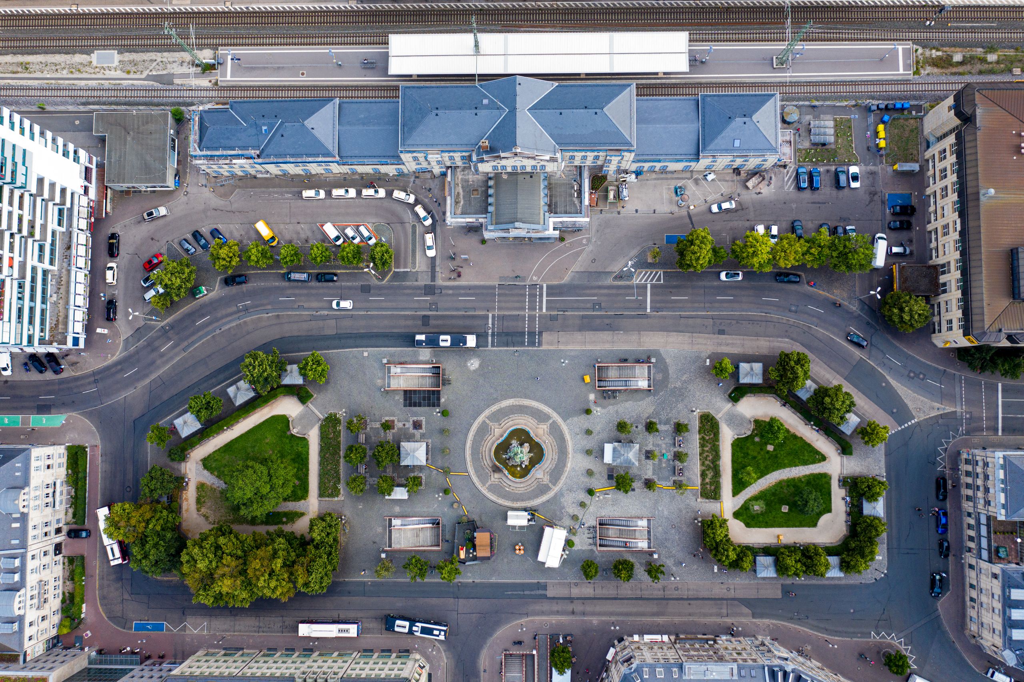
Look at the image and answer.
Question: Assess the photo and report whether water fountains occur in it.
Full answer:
Yes, a water fountain can be made out from above.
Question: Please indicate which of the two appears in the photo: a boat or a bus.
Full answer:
The one in the frame is a bus.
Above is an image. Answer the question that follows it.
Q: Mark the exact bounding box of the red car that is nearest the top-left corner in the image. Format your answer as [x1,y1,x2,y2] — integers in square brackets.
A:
[142,253,164,273]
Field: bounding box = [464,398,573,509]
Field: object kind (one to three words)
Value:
fountain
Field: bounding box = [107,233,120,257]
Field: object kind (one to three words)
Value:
vehicle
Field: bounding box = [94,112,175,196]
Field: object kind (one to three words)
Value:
building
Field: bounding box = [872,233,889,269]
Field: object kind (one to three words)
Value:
vehicle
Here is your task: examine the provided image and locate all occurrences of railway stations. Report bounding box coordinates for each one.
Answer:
[199,75,792,229]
